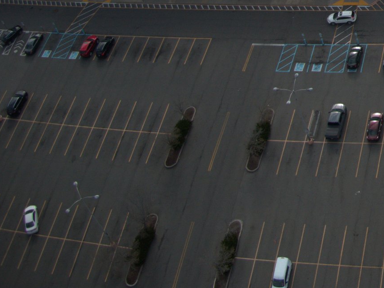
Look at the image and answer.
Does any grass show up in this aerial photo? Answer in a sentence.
No, there's no grass in this view.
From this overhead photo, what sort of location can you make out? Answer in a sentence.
The picture captures a parking lot.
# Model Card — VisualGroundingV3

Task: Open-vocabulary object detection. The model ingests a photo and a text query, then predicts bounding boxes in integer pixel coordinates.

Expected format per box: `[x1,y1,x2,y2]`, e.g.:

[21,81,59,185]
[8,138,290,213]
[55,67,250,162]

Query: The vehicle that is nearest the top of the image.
[325,11,359,27]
